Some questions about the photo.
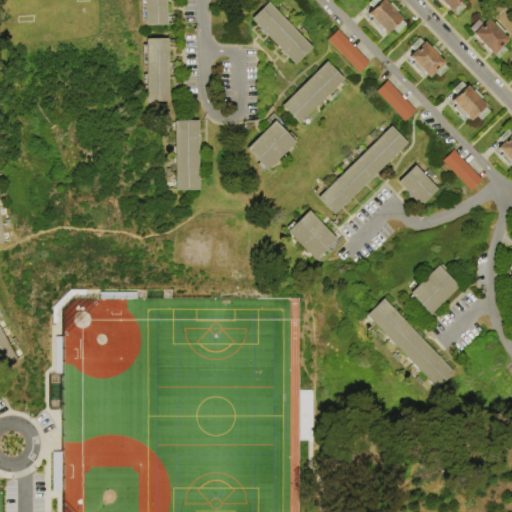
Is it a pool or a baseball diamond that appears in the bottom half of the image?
baseball diamond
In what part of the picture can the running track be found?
bottom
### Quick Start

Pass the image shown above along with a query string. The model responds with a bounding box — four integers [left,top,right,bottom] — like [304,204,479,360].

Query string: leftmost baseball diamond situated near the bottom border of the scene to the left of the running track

[64,434,170,512]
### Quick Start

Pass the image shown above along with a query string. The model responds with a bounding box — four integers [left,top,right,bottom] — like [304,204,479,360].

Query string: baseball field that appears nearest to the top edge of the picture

[63,299,141,379]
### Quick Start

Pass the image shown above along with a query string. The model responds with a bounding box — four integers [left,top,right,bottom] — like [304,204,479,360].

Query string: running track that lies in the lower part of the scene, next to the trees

[262,298,300,512]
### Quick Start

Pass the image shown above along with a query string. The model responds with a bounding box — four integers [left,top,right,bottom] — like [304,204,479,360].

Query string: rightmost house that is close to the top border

[474,18,510,56]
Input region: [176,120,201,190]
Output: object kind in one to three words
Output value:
building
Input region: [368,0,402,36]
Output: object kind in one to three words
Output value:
house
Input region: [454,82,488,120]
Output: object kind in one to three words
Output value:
house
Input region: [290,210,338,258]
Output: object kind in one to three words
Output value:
building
